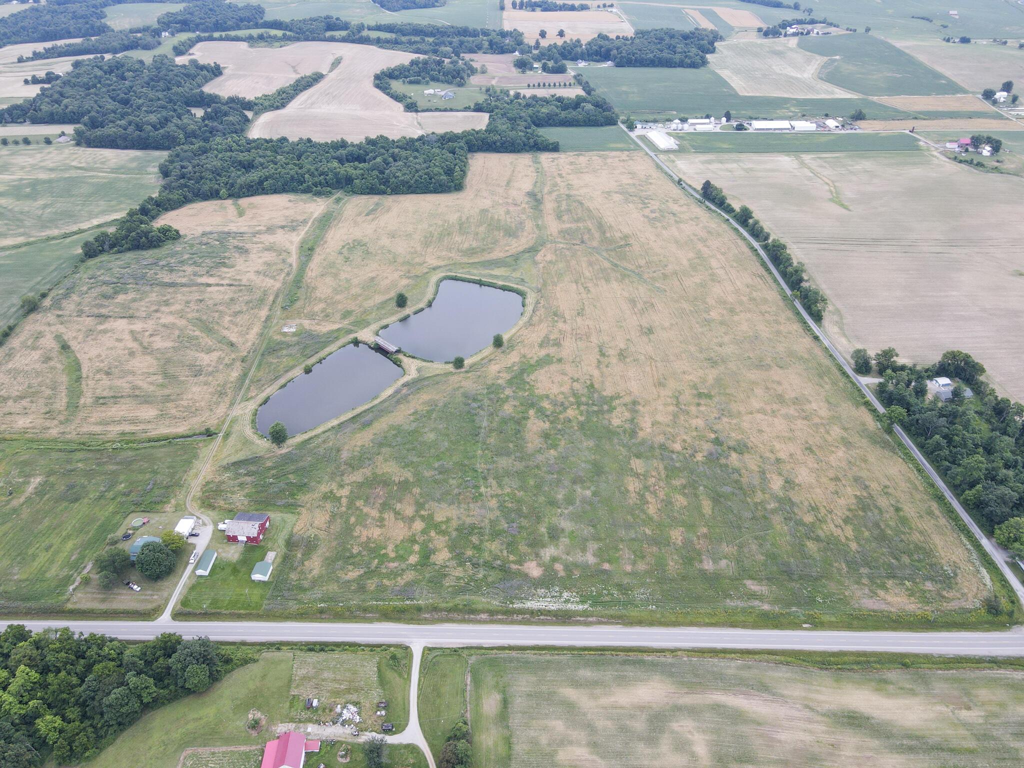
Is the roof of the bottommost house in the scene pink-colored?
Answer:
Yes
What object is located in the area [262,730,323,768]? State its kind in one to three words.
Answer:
house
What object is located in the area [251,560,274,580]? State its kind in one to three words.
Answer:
shed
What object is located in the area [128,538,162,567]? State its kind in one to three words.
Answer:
house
